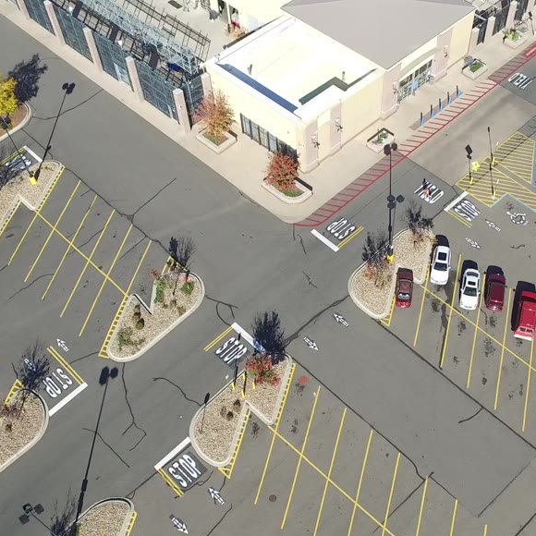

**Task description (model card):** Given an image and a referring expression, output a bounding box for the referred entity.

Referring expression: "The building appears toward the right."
[194,0,481,173]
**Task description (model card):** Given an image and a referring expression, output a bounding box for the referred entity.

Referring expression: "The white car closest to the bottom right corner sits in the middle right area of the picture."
[459,268,481,312]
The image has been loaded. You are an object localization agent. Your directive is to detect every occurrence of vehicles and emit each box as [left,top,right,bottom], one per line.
[430,245,451,286]
[513,290,536,343]
[459,268,481,312]
[484,273,508,315]
[393,268,415,310]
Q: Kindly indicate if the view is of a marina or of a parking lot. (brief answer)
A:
parking lot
